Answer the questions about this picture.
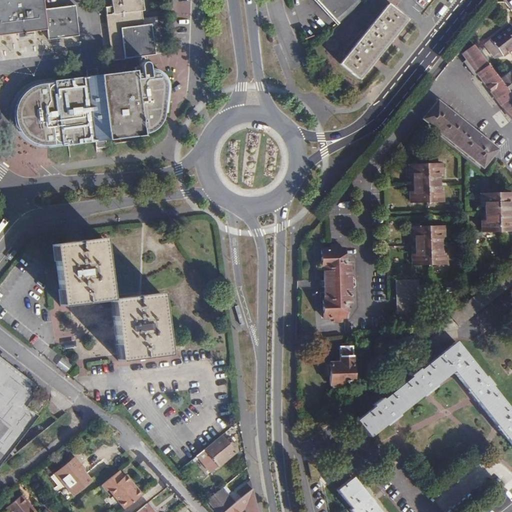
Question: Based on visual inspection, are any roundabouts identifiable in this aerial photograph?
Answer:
Yes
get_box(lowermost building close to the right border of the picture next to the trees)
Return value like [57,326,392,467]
[360,342,512,451]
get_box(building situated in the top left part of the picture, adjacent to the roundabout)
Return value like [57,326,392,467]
[15,62,170,150]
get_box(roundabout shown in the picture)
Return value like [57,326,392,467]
[197,102,307,214]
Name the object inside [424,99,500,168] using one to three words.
building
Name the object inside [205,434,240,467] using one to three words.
house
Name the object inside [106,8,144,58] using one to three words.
building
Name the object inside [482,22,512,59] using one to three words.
house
